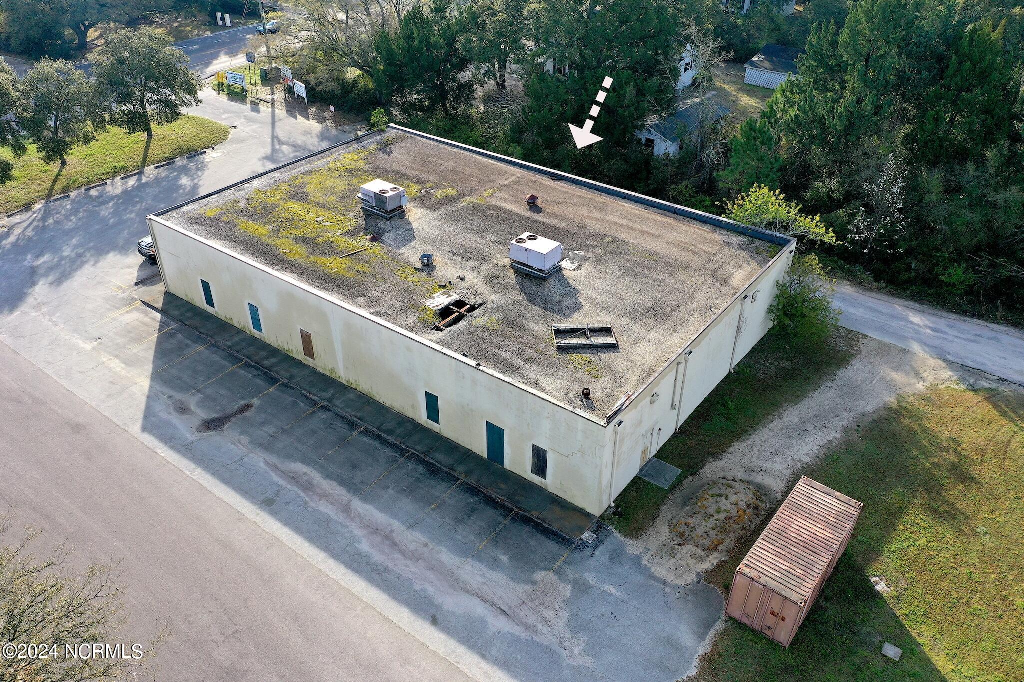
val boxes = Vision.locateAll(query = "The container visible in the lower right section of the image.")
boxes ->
[726,477,863,649]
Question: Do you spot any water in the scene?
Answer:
No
